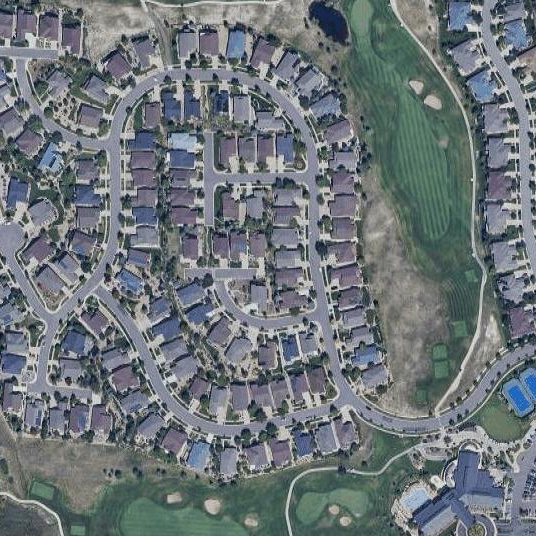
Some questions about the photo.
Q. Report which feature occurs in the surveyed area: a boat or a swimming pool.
swimming pool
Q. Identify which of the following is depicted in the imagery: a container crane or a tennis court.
tennis court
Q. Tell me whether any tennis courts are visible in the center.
No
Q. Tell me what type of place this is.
residential area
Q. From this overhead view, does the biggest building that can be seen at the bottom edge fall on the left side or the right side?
right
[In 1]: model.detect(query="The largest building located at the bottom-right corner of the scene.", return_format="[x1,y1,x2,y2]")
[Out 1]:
[411,452,505,535]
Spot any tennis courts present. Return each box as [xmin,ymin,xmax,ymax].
[503,380,533,417]
[519,368,536,404]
